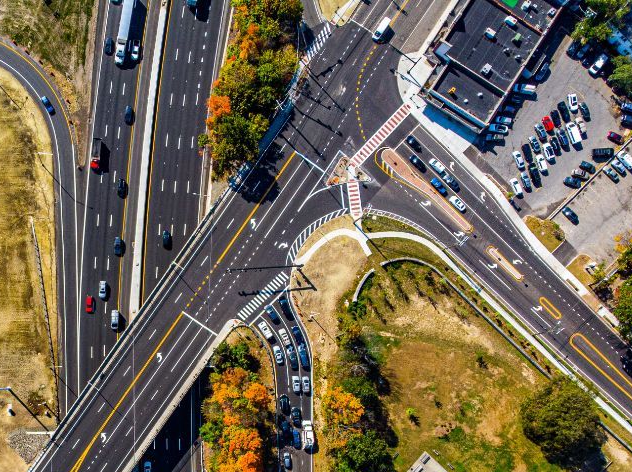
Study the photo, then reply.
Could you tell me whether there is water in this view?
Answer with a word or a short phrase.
No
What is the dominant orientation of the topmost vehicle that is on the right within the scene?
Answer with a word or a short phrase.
on a diagonal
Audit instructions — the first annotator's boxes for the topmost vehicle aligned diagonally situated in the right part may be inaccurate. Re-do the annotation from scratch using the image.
[374,15,394,38]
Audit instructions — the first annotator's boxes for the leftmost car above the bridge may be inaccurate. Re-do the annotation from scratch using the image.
[41,96,54,113]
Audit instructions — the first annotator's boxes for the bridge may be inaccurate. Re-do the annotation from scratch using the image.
[36,112,277,472]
